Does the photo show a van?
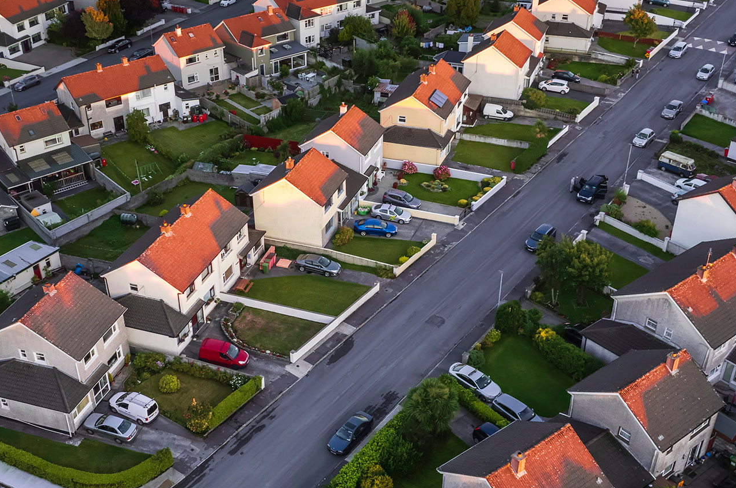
Yes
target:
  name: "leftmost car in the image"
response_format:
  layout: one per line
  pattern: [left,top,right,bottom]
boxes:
[14,74,42,91]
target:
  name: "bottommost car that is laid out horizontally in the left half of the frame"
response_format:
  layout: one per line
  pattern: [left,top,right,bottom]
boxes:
[83,412,141,444]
